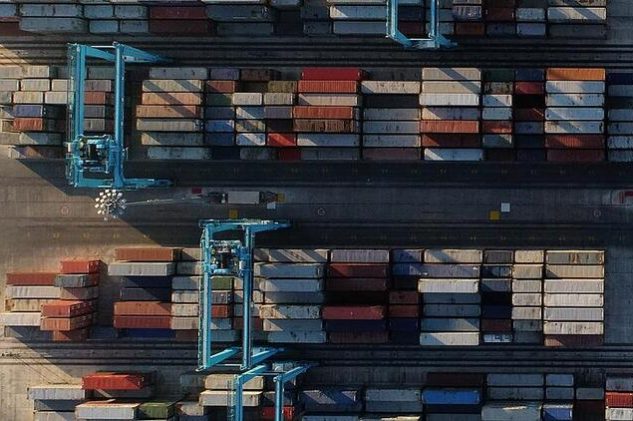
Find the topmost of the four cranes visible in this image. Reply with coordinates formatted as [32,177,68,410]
[384,0,462,50]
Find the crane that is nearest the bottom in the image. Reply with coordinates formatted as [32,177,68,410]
[227,357,320,421]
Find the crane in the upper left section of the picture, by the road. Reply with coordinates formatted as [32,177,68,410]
[66,40,177,185]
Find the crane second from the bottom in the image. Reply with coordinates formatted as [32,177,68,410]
[193,219,291,368]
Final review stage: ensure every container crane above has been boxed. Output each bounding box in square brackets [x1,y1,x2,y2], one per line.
[193,219,291,368]
[227,357,320,421]
[384,0,462,50]
[66,40,177,185]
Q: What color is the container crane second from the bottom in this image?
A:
blue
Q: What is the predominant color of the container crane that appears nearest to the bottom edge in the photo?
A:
blue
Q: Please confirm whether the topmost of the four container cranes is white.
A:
No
